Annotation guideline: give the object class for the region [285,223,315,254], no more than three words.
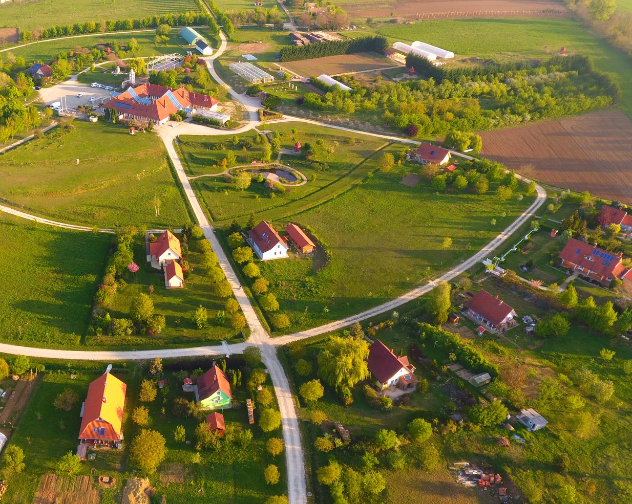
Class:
barn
